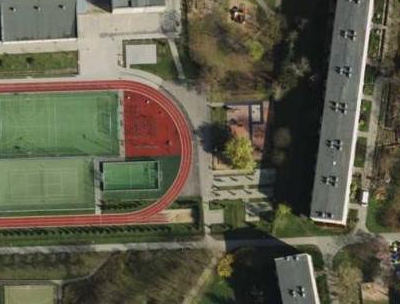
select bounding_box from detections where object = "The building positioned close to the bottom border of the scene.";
[275,252,323,304]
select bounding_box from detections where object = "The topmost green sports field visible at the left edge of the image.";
[0,91,117,158]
